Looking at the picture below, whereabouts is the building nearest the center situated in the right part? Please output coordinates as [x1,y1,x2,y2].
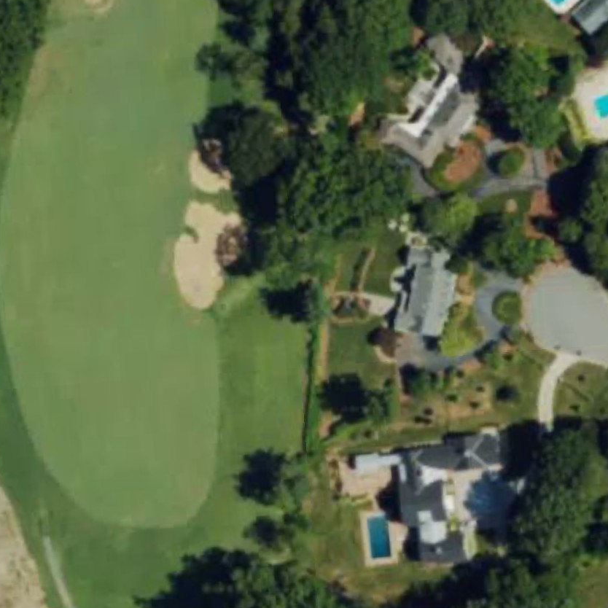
[395,244,453,339]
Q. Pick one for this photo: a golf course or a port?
golf course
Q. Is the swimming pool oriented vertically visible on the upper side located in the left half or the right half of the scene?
right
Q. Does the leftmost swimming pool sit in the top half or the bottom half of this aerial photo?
bottom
